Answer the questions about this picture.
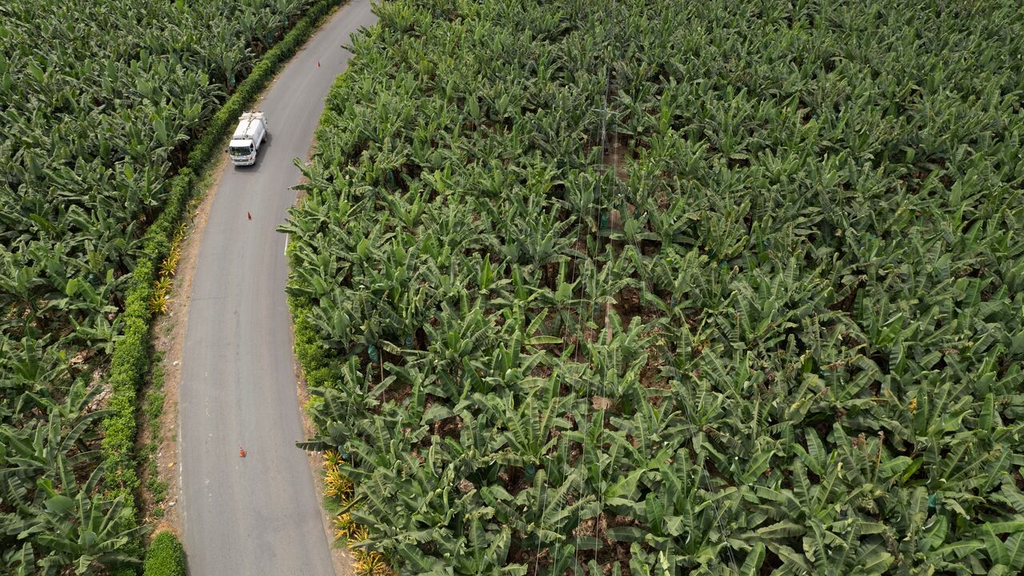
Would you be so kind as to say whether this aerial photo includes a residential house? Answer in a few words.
No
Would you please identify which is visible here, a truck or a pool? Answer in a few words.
truck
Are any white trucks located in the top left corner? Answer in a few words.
Yes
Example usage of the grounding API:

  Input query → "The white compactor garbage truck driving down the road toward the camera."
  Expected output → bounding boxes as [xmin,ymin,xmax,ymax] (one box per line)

[226,109,271,163]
